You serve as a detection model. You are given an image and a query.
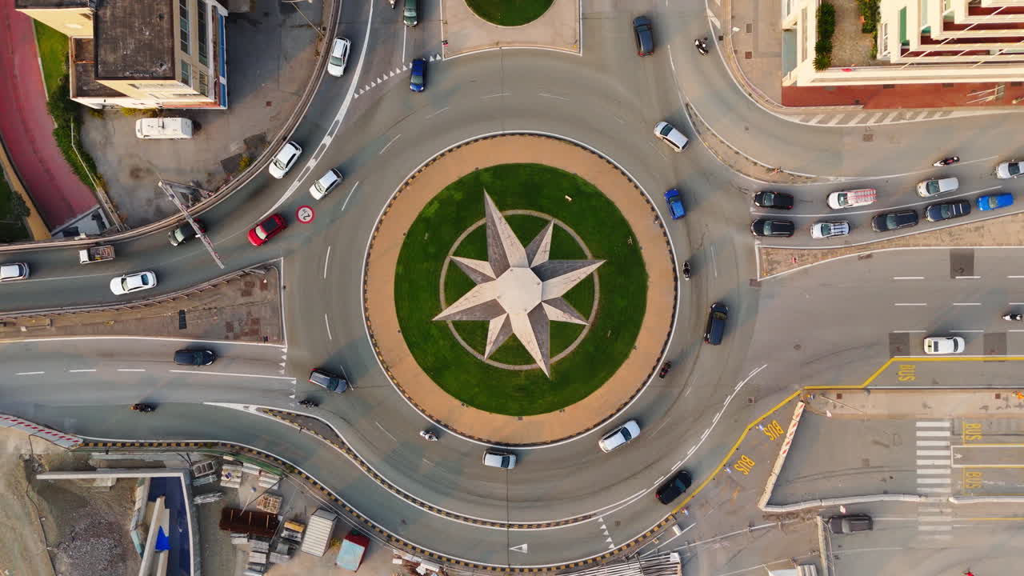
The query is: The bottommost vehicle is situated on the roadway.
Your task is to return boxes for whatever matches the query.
[826,513,873,535]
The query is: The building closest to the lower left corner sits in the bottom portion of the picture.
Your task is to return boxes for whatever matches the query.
[301,507,339,557]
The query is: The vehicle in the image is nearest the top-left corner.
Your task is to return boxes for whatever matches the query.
[137,115,196,140]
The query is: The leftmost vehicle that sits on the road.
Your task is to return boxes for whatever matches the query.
[0,262,33,282]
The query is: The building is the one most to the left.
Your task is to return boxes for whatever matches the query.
[15,0,232,111]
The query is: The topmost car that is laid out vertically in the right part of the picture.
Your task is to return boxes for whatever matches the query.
[632,16,653,59]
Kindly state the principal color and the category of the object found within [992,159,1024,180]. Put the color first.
white car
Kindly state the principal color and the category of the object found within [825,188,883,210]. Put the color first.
white vehicle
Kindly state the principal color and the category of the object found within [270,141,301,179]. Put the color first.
white car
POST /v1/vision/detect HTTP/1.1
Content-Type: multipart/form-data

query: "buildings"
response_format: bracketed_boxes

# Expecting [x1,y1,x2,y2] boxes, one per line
[301,507,339,557]
[765,561,799,576]
[15,0,232,111]
[781,0,1024,91]
[336,530,371,571]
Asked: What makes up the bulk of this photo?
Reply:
paved ground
